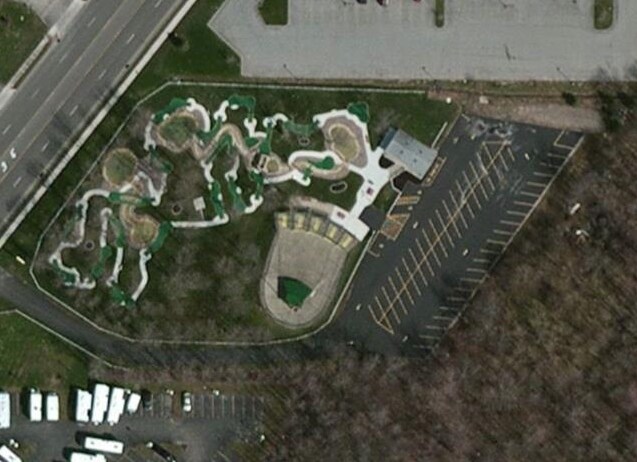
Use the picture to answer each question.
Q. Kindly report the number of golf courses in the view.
one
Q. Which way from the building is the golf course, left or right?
left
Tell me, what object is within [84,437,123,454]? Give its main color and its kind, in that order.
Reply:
white camper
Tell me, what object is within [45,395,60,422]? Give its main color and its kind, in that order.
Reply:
white camper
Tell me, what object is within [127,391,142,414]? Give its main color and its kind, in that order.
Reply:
white vehicle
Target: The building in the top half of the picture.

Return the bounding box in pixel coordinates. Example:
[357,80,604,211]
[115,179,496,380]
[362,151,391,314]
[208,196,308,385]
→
[377,124,438,177]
